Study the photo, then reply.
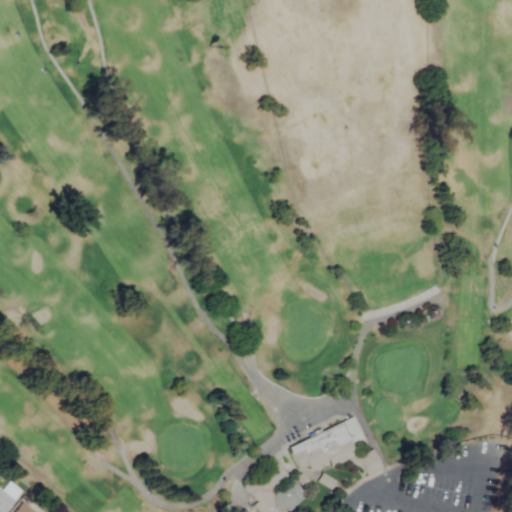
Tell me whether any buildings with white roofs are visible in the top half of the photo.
No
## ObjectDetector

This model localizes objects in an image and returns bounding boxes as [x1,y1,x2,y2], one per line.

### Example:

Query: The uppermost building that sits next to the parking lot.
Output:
[289,416,366,473]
